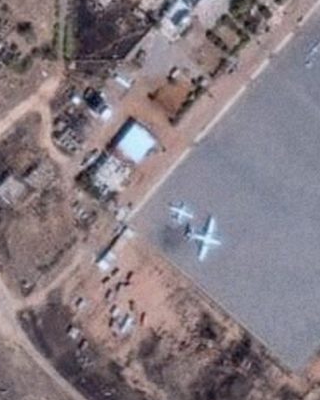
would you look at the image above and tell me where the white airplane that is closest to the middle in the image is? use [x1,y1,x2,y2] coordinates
[170,202,192,223]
